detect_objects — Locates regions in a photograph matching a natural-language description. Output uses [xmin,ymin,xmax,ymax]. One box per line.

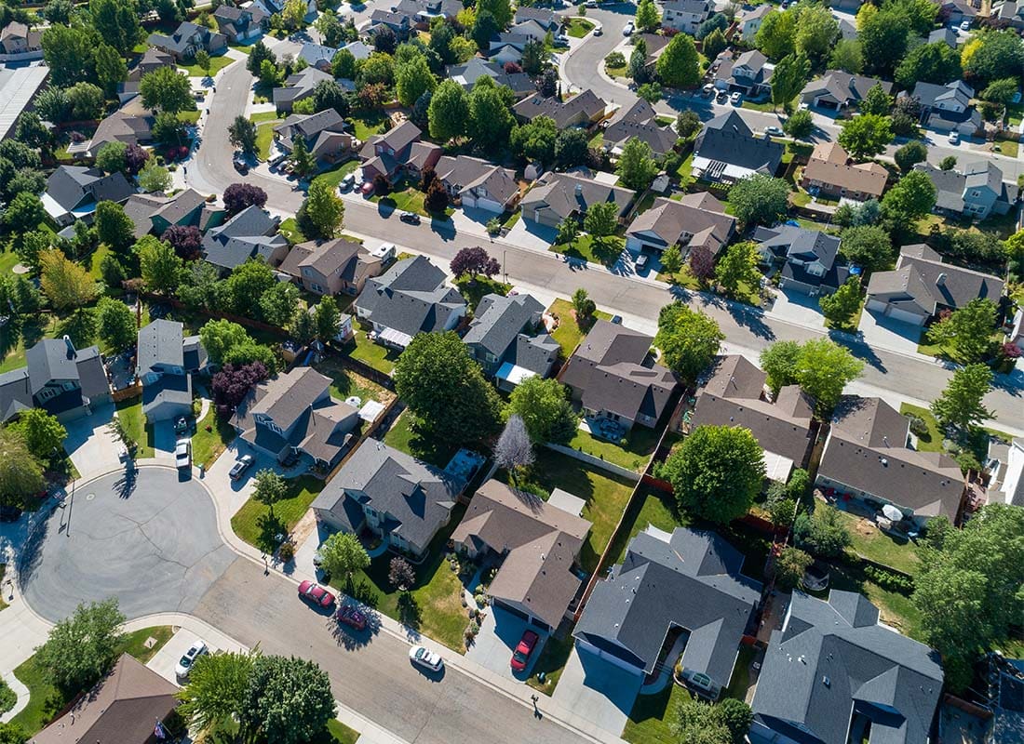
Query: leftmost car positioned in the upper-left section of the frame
[193,89,205,101]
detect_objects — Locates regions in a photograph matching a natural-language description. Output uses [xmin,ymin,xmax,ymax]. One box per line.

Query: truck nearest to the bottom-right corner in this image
[508,627,543,676]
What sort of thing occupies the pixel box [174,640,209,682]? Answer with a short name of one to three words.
car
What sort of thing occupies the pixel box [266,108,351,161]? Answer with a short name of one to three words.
house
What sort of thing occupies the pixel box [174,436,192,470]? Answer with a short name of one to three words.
vehicle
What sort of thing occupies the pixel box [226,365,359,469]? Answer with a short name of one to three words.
house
